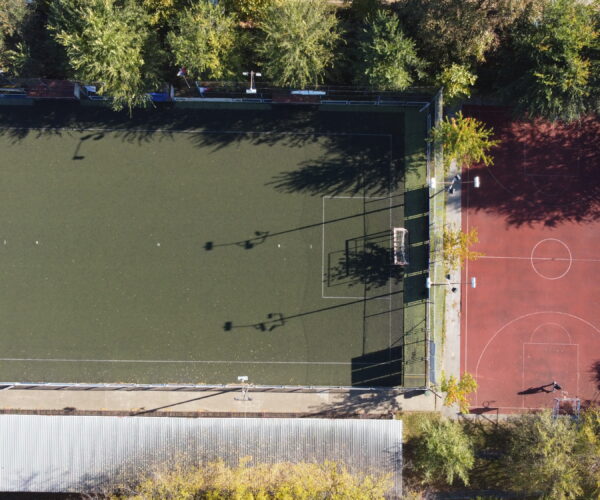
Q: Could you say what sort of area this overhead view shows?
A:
sports ground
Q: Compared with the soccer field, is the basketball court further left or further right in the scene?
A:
right of it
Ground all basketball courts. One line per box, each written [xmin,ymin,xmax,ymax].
[461,106,600,414]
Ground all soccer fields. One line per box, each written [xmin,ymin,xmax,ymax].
[0,103,430,385]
